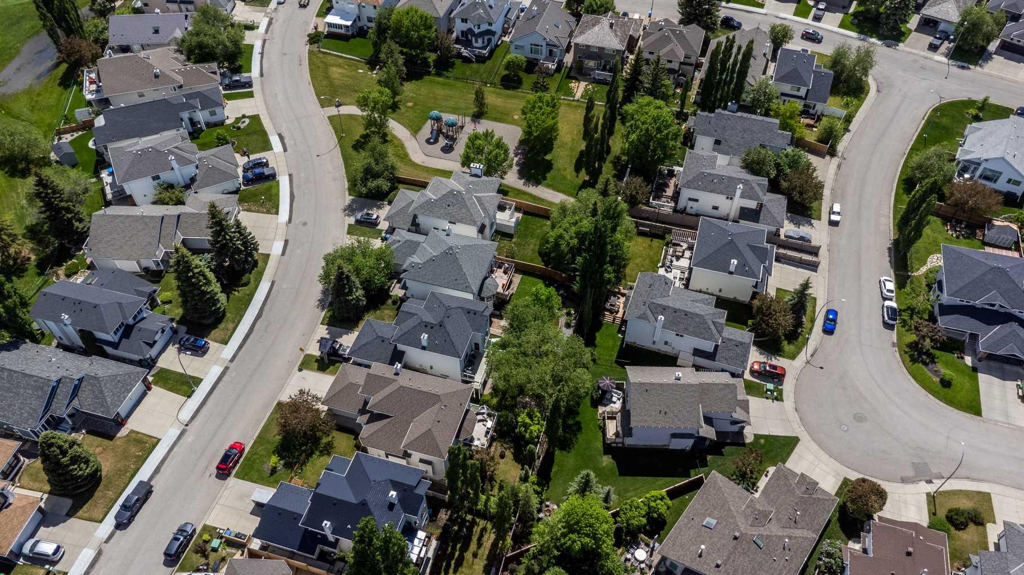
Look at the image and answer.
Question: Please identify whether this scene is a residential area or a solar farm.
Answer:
residential area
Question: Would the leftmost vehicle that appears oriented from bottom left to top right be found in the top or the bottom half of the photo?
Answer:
bottom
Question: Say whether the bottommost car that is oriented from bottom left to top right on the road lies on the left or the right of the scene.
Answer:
left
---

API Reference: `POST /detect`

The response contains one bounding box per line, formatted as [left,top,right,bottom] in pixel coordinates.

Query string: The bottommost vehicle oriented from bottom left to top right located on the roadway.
[158,519,194,563]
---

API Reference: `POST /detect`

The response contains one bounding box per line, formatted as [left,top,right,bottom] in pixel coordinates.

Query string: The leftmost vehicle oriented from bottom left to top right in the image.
[111,478,152,526]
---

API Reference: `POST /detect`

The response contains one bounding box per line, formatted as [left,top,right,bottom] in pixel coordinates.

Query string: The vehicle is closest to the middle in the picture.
[352,210,382,224]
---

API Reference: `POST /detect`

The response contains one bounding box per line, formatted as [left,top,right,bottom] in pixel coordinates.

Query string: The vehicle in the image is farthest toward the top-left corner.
[221,73,251,88]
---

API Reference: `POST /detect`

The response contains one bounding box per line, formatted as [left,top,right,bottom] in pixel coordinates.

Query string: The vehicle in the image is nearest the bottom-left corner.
[19,538,62,562]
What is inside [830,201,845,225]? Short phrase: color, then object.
white car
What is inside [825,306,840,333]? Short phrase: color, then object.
blue car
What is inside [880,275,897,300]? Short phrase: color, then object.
white car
